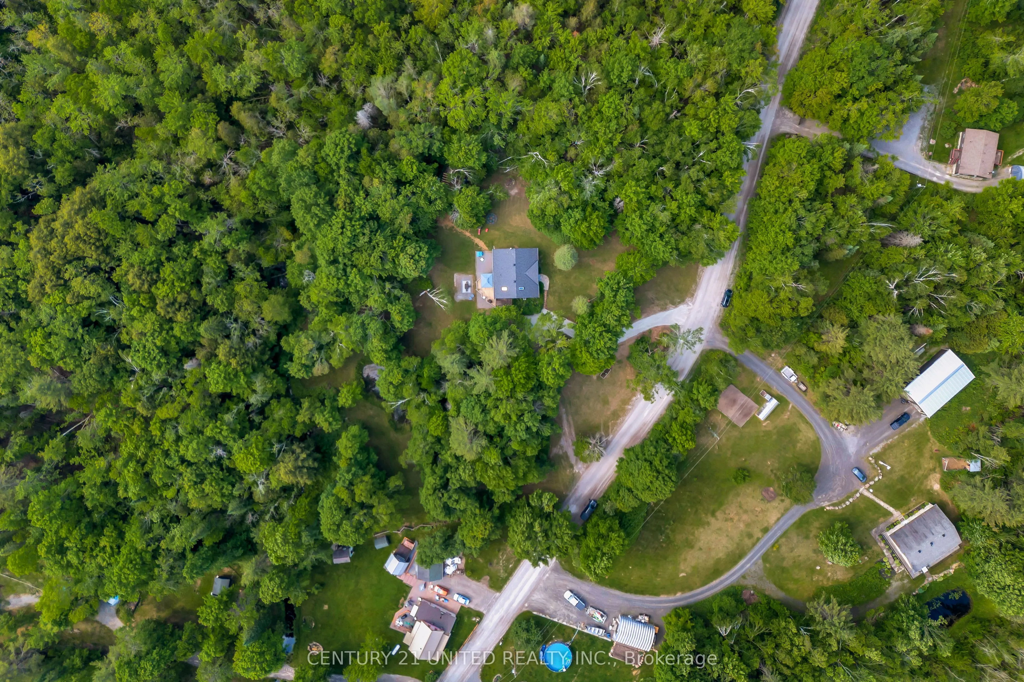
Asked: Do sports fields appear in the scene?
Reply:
No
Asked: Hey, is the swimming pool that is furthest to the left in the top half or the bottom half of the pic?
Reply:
bottom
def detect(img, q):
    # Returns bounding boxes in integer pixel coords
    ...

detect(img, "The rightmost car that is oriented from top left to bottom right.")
[853,467,869,484]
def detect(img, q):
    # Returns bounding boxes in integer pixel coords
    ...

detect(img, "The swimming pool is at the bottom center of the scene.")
[544,644,573,675]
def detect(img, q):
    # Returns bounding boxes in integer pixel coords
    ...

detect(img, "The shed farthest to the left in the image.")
[212,575,233,597]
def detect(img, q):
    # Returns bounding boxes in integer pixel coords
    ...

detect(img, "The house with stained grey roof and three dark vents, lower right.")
[882,503,962,581]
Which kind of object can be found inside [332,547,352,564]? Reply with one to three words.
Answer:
shed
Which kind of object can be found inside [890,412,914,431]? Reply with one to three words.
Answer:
vehicle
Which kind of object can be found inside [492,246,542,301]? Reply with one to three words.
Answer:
house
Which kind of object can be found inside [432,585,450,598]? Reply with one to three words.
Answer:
vehicle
